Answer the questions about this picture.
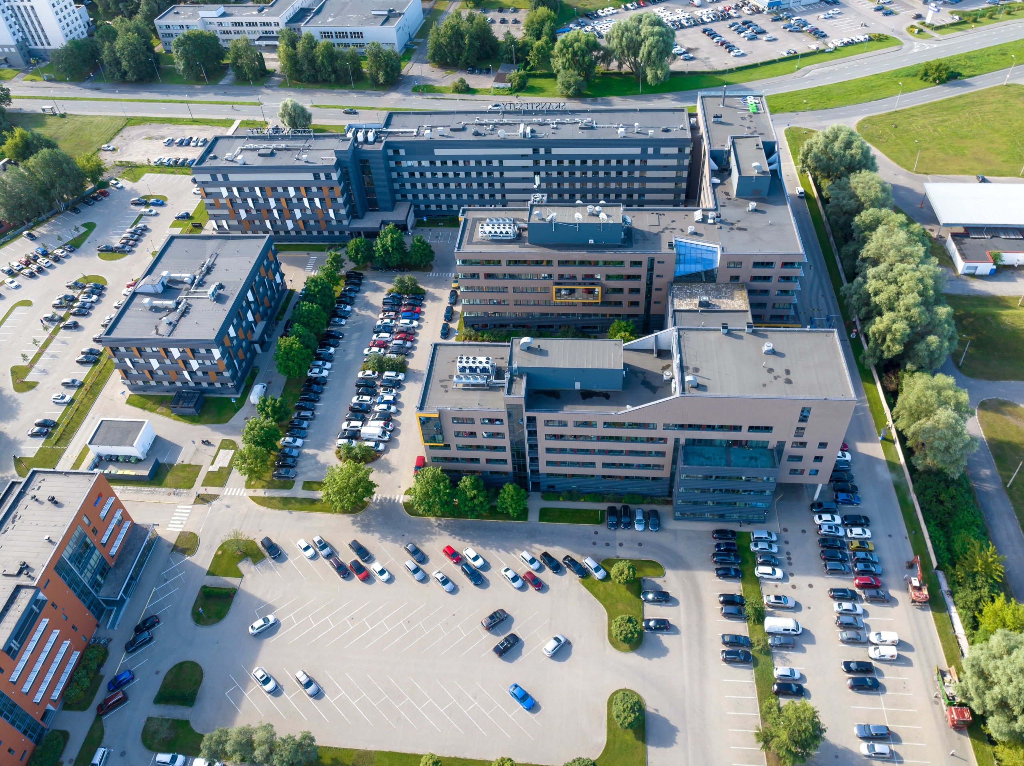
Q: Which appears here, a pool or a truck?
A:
truck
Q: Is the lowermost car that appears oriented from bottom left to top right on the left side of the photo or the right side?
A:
left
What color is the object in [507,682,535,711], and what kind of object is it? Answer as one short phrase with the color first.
blue car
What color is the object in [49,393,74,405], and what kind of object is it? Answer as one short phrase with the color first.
white vehicle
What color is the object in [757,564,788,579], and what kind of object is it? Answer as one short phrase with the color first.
white car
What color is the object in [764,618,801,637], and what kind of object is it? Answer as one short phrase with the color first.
white vehicle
